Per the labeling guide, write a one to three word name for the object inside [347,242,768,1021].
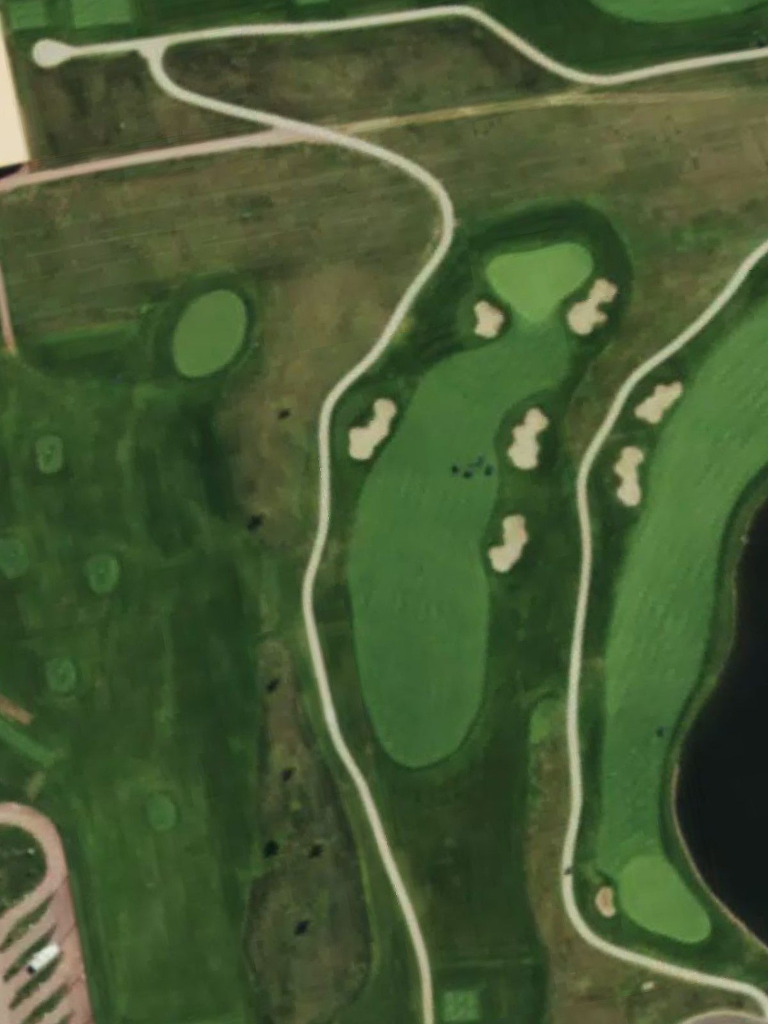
golf course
